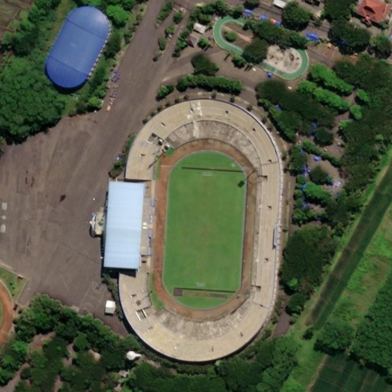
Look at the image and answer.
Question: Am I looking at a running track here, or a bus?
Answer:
running track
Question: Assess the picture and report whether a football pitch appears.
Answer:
Yes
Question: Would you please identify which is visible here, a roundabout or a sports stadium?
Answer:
sports stadium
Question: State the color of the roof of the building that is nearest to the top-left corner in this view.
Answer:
blue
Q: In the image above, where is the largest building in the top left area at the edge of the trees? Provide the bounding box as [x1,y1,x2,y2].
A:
[49,5,113,88]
